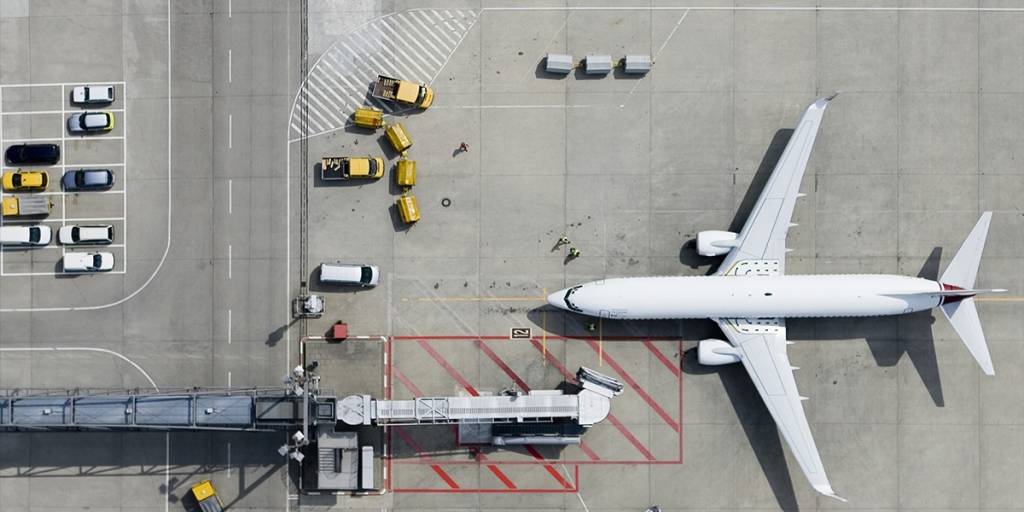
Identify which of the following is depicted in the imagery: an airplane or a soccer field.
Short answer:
airplane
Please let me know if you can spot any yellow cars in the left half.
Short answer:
Yes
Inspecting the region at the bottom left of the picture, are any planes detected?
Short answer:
No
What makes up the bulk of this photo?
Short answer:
paved ground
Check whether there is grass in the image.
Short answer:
No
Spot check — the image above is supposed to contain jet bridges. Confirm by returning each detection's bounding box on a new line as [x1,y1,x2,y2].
[338,368,622,446]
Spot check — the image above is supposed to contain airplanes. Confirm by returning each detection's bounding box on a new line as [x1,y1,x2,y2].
[546,91,1005,500]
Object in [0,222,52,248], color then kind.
white vehicle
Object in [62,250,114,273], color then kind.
white vehicle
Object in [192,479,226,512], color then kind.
yellow work vehicle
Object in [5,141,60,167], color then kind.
black car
